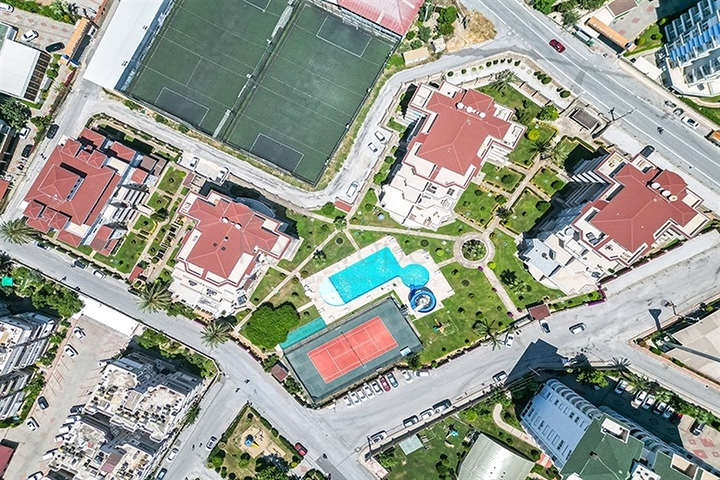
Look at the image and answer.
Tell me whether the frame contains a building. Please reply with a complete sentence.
Yes, a building is visible in the scene.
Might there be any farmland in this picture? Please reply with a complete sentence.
No, there's no farmland in this view.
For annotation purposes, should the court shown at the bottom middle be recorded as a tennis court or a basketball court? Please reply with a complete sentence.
Specifically, the court shown at the bottom middle is a tennis court.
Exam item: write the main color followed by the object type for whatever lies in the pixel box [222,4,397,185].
green soccer field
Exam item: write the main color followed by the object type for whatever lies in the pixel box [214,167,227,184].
white vehicle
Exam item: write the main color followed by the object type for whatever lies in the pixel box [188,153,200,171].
white vehicle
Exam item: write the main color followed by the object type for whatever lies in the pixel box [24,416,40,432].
white car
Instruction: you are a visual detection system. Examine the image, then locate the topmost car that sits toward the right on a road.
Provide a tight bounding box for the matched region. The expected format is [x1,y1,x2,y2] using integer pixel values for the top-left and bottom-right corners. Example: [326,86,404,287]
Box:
[548,39,565,53]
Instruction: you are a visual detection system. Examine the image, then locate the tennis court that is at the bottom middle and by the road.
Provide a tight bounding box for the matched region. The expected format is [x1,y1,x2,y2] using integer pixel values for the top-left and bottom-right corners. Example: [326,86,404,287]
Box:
[283,298,424,401]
